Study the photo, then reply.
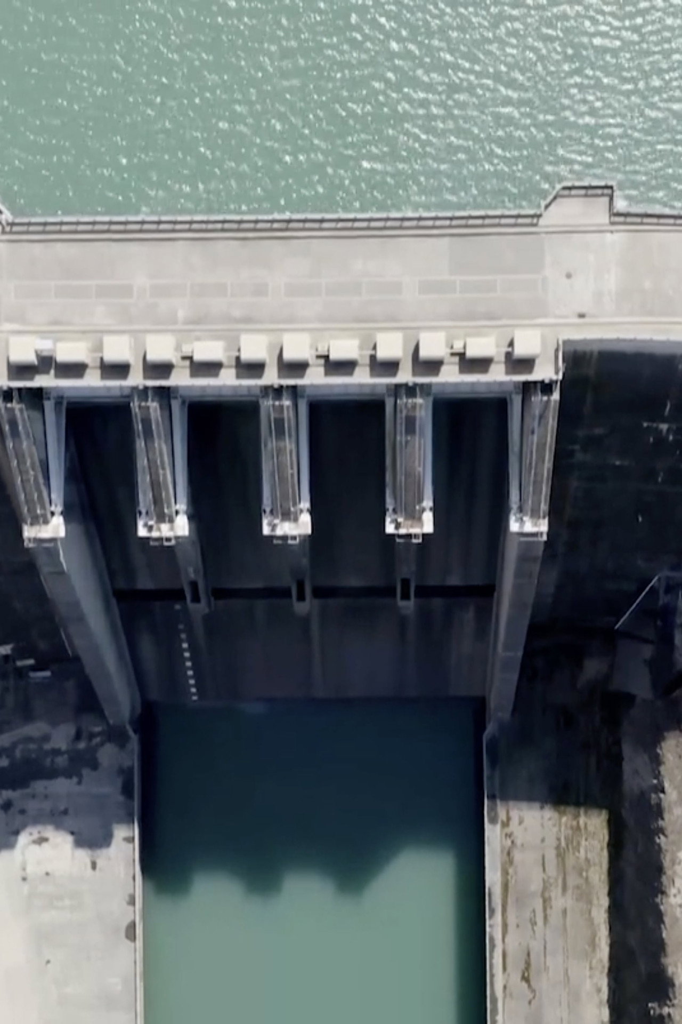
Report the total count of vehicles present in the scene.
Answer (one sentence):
No vehicles are visible.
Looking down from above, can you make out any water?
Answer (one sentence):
Yes, water can be seen from above here.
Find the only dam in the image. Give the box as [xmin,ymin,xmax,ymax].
[0,183,682,699]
